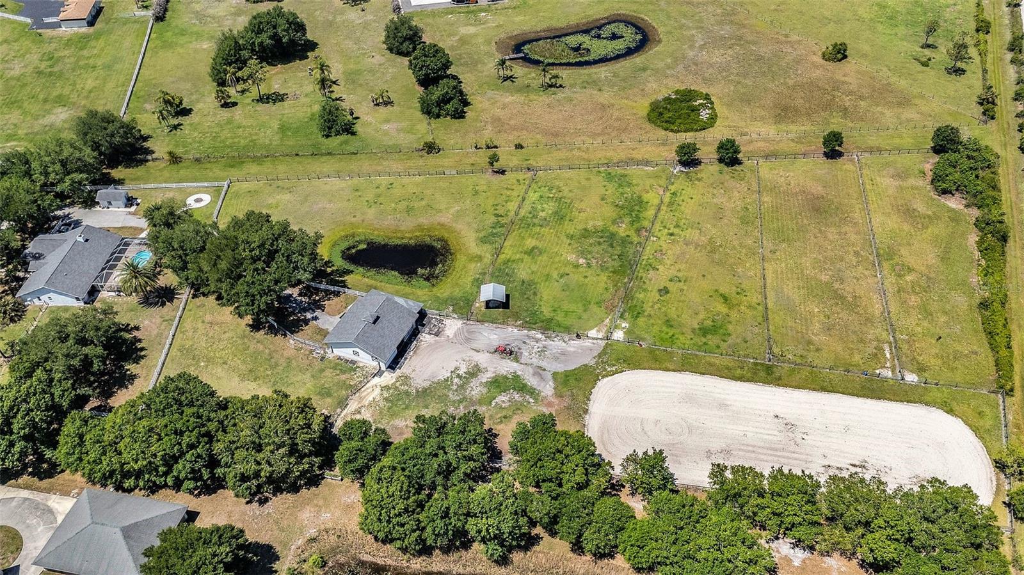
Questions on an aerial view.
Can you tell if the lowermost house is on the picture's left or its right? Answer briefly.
left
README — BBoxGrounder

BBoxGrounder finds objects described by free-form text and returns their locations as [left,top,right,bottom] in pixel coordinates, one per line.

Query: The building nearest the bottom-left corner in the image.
[33,488,188,575]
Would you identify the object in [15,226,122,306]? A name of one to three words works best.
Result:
house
